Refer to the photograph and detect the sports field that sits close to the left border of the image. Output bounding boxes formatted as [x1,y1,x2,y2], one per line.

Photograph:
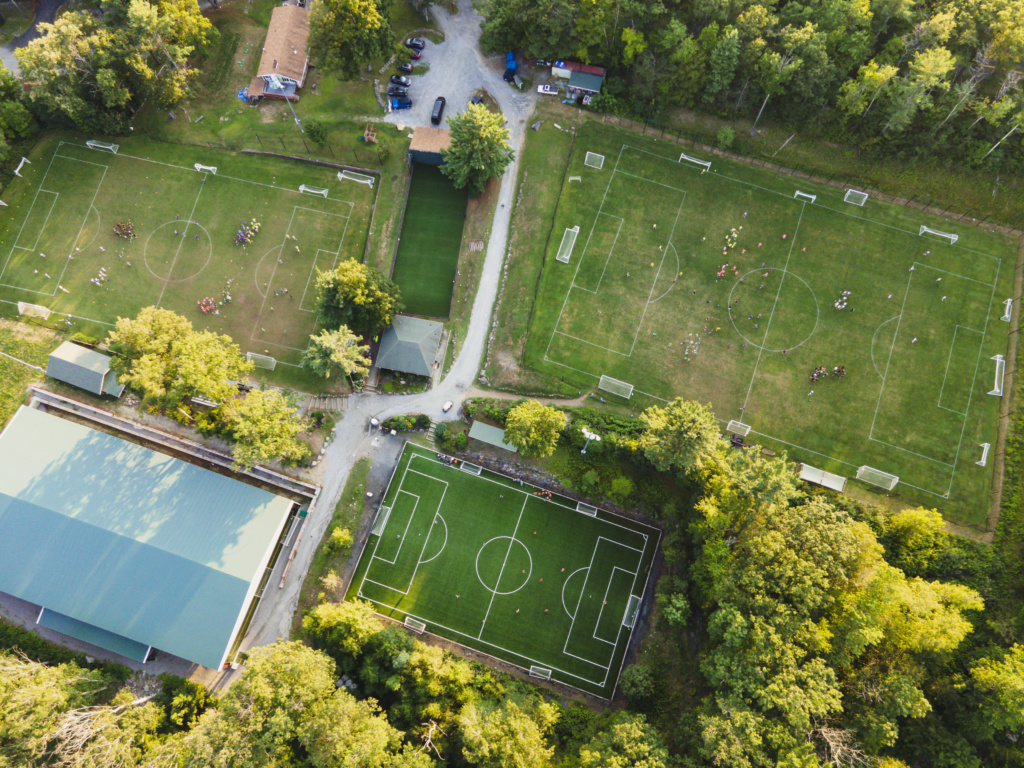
[0,140,359,370]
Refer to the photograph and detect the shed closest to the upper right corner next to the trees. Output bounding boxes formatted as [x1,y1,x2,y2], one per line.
[553,60,606,98]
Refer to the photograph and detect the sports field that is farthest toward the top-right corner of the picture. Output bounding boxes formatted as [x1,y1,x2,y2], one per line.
[530,138,1014,507]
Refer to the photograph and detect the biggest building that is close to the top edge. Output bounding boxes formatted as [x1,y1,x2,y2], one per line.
[248,1,310,101]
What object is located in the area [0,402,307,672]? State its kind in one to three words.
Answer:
building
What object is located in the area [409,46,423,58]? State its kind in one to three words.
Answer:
vehicle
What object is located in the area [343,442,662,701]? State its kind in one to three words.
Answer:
sports field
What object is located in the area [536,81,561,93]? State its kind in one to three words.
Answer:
vehicle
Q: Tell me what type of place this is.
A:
sports ground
